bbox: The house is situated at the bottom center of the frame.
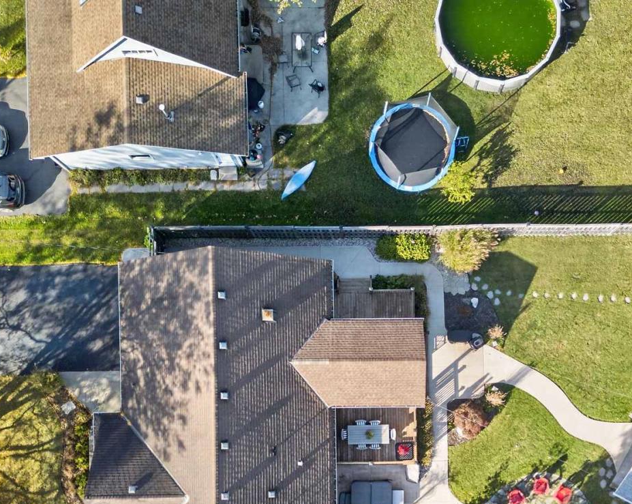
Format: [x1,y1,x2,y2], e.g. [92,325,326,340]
[83,245,427,504]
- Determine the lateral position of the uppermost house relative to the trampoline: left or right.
to its left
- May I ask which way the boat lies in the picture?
at an angle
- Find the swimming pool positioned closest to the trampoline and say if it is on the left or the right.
right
